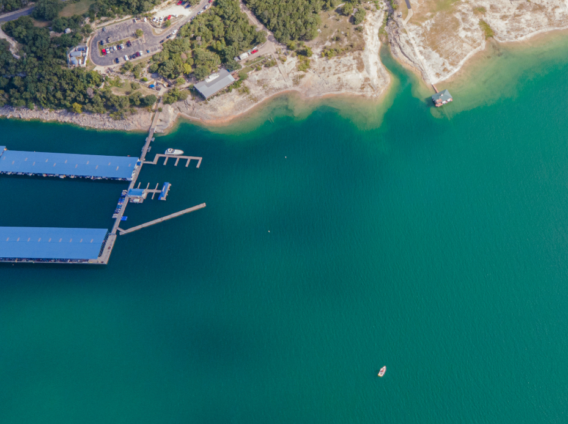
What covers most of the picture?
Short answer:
water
